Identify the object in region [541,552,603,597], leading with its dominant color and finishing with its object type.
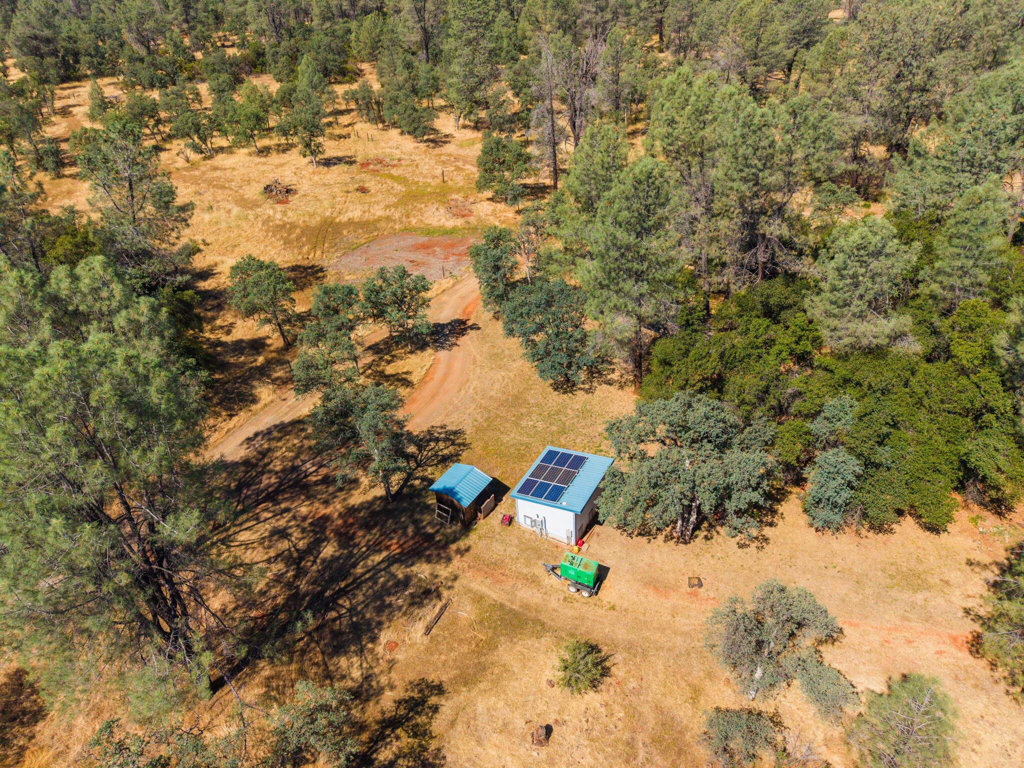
green trailer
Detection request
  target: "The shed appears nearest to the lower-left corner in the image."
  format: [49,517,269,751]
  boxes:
[429,463,493,525]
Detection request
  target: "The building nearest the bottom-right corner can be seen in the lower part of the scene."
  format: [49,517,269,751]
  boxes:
[509,444,615,545]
